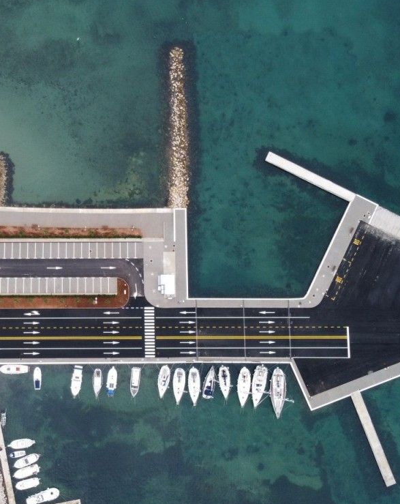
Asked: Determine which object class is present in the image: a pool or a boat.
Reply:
boat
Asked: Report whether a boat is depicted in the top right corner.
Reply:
No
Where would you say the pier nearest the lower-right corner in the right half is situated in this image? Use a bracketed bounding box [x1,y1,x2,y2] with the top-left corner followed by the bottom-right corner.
[351,392,395,486]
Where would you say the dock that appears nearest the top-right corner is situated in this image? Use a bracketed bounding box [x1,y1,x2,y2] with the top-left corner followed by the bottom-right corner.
[265,151,355,202]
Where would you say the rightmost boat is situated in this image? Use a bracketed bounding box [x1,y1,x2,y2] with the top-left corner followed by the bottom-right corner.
[269,365,294,426]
